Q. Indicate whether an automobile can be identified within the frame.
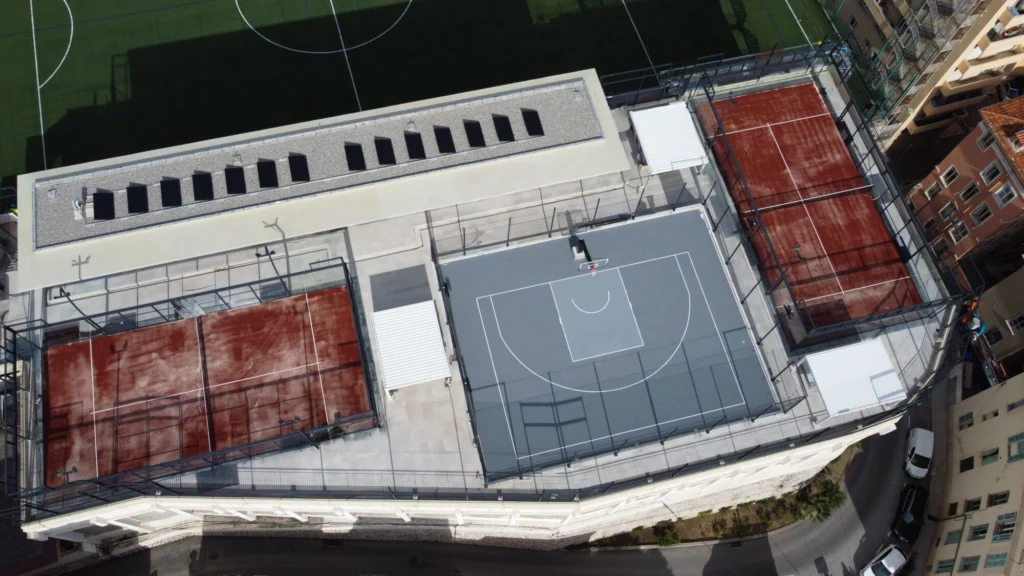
Yes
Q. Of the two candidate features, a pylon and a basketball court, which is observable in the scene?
basketball court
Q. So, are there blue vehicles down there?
No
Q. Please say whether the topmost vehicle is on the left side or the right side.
right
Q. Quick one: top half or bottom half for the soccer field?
top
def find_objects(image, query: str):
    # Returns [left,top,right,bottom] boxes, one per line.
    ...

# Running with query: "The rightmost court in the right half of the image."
[690,44,965,353]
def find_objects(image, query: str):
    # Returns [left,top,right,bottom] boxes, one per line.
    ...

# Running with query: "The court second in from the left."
[432,204,787,483]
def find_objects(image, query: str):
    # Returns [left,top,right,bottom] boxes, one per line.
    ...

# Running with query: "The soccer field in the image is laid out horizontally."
[0,0,857,209]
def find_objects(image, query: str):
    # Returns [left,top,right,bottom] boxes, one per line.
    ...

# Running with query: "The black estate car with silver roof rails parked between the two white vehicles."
[886,485,928,552]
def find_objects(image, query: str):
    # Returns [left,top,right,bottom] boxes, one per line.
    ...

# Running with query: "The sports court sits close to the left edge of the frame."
[3,254,380,508]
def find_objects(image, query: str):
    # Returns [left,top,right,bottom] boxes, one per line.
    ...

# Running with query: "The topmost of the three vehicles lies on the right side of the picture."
[899,421,935,480]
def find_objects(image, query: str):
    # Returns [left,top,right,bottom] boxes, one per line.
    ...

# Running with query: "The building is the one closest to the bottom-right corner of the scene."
[924,372,1024,576]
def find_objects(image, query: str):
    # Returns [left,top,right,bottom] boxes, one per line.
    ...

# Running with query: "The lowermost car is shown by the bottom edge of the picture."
[867,546,913,576]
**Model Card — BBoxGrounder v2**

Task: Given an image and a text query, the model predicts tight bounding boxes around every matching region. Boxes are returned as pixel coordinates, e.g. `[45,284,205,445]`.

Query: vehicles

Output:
[867,546,913,576]
[886,485,928,552]
[899,421,935,480]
